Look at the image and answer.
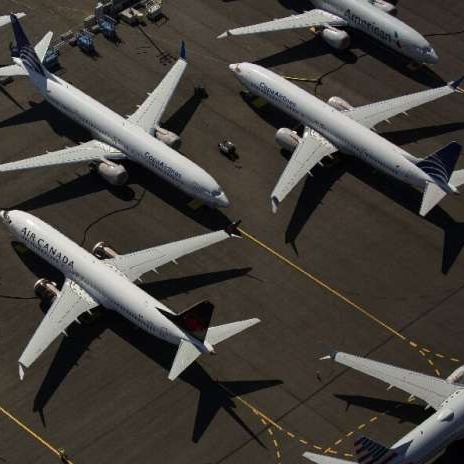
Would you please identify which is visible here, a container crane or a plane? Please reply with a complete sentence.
Looking from above, you can make out a plane.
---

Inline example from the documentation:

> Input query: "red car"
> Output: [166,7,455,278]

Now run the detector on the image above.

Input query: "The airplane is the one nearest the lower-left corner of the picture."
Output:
[1,209,260,380]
